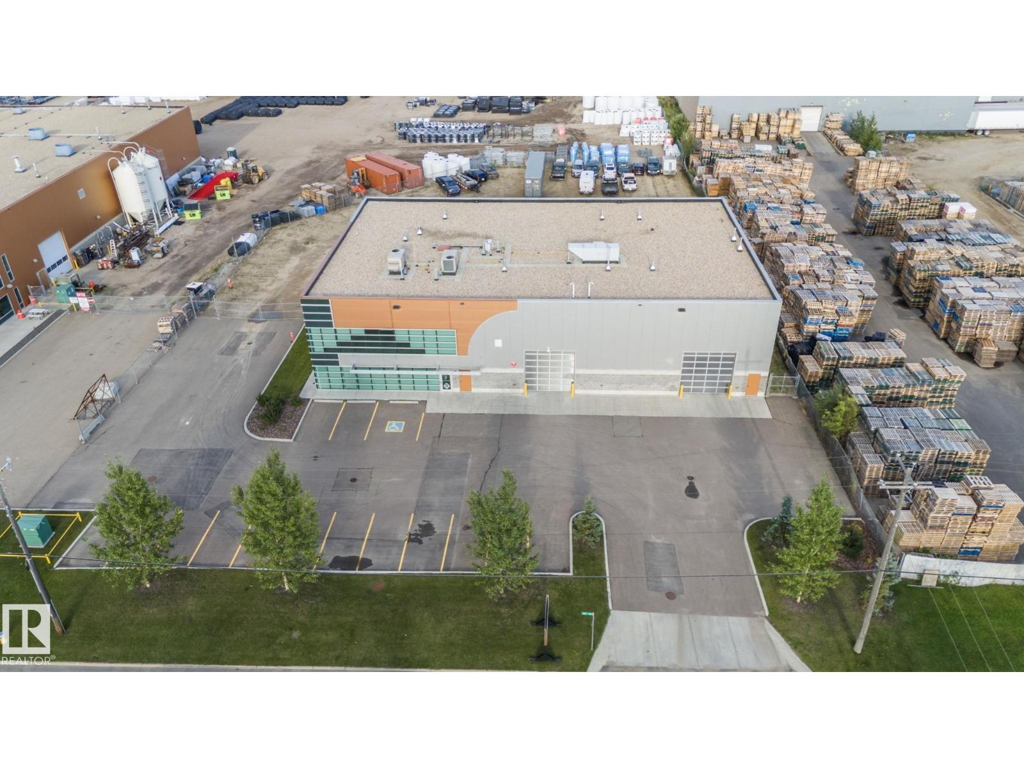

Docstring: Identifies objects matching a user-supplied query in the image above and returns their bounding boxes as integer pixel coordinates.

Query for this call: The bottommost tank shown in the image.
[221,227,263,256]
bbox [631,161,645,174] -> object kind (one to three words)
vehicle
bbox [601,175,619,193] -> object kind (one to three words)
vehicle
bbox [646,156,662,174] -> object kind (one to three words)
car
